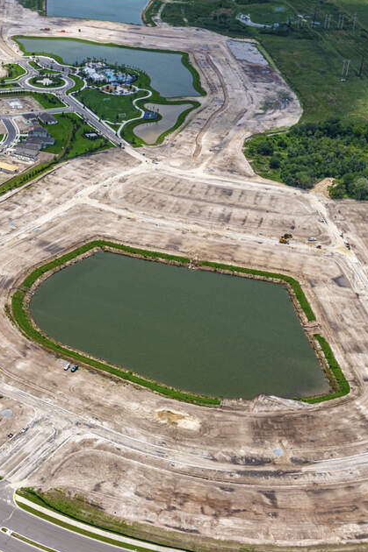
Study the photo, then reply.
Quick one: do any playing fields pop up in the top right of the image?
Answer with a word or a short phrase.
No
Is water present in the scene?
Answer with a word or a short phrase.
Yes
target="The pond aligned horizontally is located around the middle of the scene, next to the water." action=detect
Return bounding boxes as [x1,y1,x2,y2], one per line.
[30,249,329,401]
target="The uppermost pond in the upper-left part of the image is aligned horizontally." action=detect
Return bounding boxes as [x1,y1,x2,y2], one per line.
[44,0,148,24]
